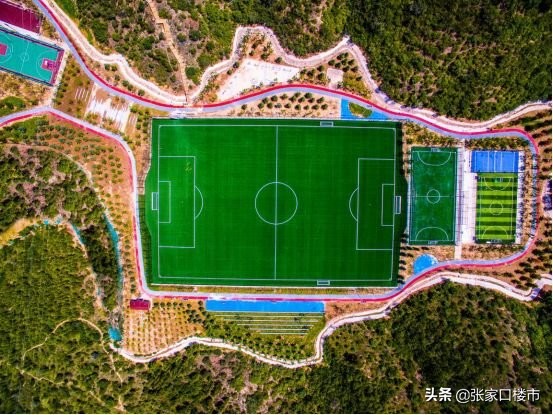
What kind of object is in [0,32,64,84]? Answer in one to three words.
basketball court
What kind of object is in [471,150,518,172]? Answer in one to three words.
sports court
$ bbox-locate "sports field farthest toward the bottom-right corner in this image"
[475,173,518,244]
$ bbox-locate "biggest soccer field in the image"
[145,116,407,290]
